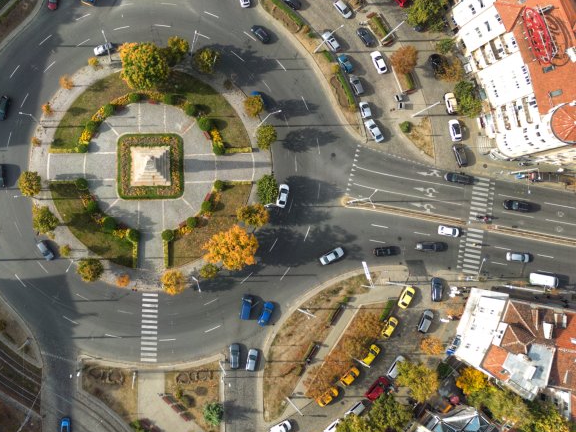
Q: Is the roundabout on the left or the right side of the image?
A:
left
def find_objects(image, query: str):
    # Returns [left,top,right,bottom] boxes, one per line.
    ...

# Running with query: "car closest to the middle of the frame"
[276,183,290,209]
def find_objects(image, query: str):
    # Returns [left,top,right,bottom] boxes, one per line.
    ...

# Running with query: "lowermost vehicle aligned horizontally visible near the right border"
[527,272,560,288]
